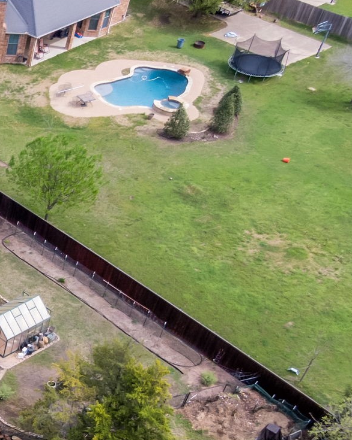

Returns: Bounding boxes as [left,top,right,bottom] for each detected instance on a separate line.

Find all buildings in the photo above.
[0,290,59,357]
[0,0,127,67]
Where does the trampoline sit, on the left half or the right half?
right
